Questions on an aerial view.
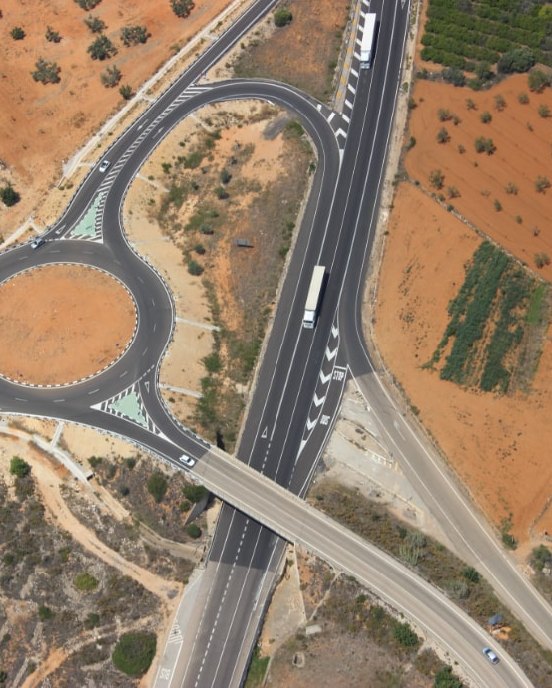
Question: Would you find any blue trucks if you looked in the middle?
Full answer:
No, I see no blue truck in the middle.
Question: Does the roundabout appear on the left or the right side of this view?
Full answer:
The roundabout is on the left side of the image.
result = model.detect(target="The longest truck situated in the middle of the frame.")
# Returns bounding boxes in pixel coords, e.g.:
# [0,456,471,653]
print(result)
[301,269,329,327]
